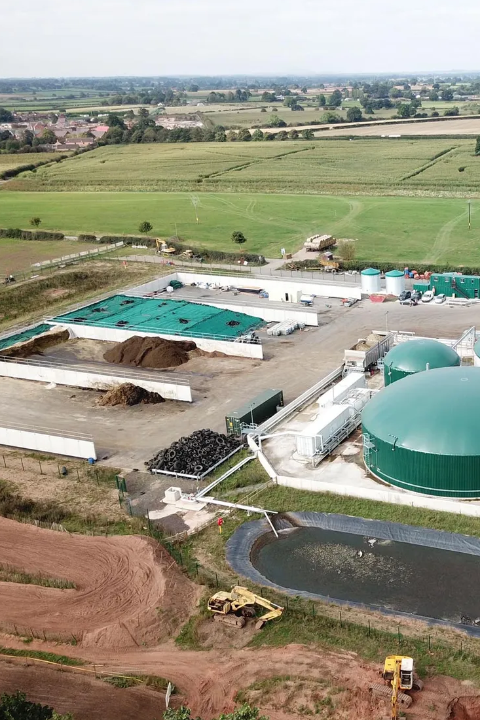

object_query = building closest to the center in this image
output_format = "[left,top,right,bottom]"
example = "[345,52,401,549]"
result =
[270,282,304,303]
